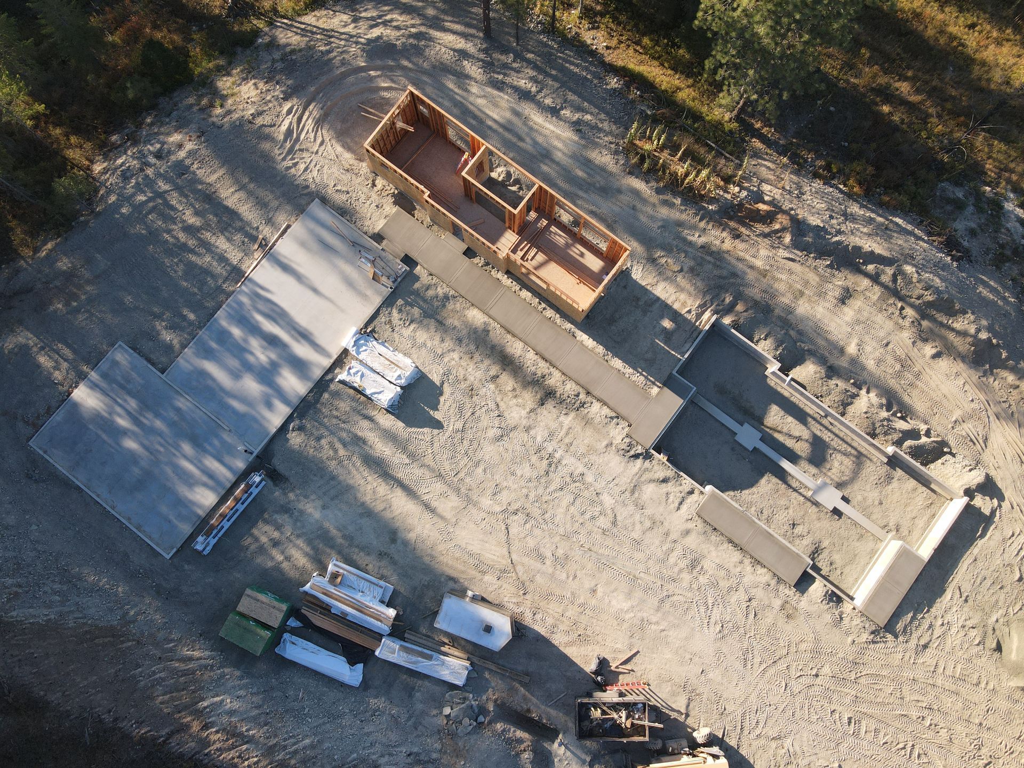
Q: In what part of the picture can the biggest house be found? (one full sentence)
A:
Look in the top portion of the view to spot the biggest house.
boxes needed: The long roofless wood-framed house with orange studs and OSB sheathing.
[363,89,630,323]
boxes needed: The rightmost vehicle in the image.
[634,727,728,768]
